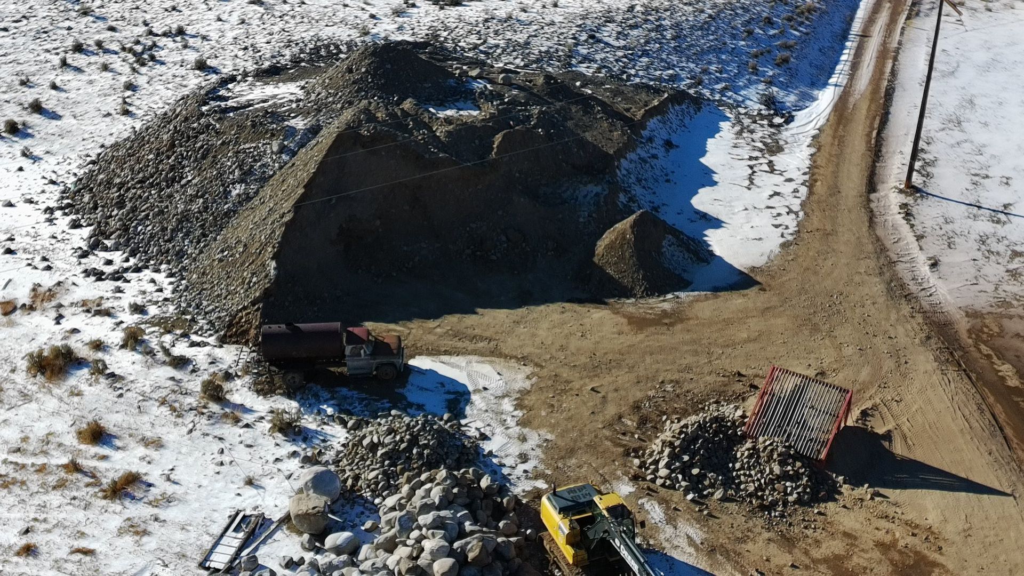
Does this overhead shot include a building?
No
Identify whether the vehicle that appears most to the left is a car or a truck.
truck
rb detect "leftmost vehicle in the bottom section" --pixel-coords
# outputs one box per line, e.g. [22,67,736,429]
[251,319,410,390]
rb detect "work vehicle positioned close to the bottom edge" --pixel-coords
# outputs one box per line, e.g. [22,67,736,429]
[532,480,656,576]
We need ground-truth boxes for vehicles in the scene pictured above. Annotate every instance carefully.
[532,480,656,576]
[251,319,410,390]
